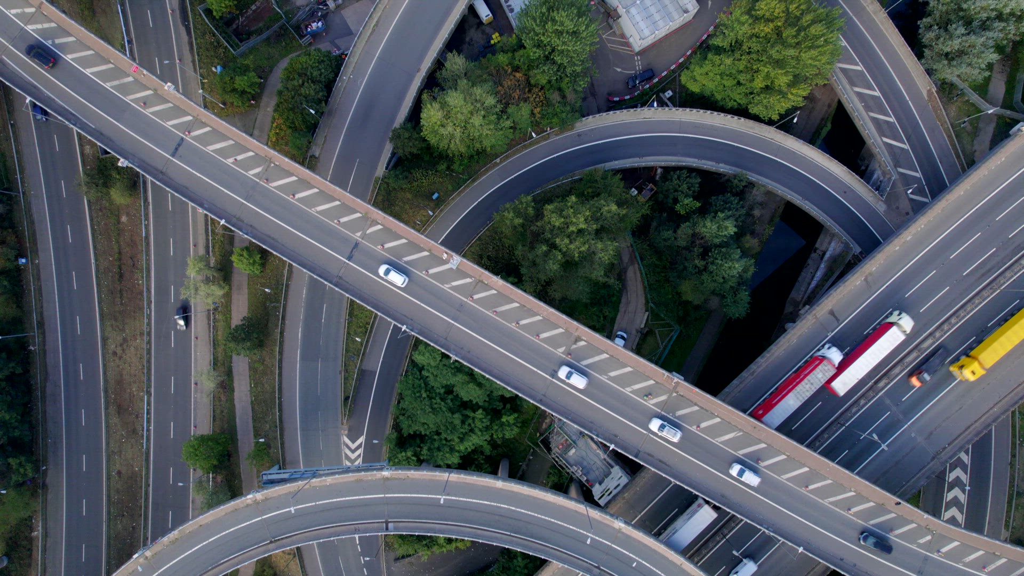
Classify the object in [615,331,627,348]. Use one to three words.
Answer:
vehicle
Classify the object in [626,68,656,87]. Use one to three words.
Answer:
vehicle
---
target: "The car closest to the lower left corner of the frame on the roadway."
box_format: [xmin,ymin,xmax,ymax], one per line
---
[172,304,186,329]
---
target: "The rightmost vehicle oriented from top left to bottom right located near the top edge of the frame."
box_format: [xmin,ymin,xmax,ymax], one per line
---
[468,0,493,27]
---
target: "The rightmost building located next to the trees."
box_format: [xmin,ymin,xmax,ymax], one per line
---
[609,0,704,53]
